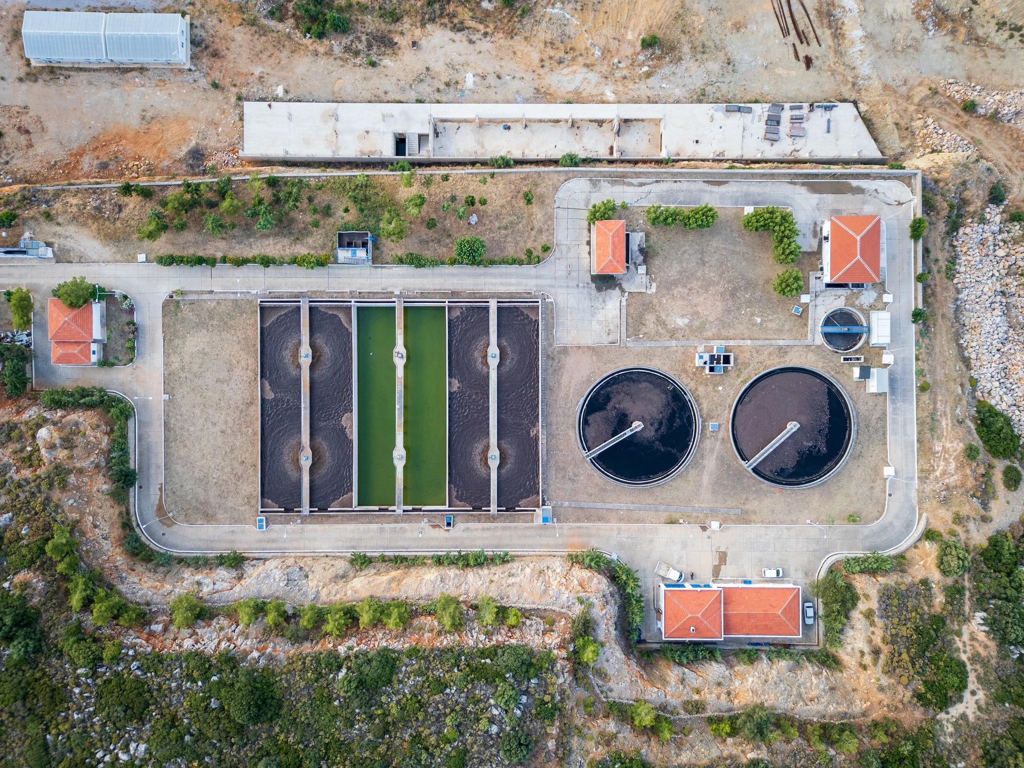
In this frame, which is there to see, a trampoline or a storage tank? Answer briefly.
storage tank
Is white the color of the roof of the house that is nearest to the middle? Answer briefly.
No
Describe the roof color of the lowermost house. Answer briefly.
red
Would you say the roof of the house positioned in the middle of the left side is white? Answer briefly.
No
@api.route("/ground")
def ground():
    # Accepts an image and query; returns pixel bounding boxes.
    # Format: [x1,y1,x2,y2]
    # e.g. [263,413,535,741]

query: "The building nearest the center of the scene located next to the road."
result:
[590,220,634,277]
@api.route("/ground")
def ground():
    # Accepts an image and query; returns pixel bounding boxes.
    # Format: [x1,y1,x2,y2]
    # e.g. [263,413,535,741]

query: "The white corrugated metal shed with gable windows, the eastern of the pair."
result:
[104,13,186,68]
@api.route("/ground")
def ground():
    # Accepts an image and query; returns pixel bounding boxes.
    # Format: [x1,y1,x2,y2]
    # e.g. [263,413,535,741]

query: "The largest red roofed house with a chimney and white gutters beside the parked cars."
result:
[660,584,802,642]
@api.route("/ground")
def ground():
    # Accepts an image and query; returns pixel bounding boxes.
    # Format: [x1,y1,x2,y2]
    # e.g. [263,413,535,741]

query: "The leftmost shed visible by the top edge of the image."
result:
[21,12,112,66]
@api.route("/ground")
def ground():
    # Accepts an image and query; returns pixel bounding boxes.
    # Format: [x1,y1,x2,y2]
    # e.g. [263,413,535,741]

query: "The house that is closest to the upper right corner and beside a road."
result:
[819,215,881,290]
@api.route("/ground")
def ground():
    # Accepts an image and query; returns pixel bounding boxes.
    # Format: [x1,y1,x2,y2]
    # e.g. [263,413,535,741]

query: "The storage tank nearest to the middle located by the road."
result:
[576,364,702,489]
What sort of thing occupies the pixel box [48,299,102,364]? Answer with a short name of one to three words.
house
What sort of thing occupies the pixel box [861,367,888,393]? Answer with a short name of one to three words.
shed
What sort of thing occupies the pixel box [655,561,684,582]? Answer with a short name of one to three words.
truck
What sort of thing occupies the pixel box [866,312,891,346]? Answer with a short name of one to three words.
shed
